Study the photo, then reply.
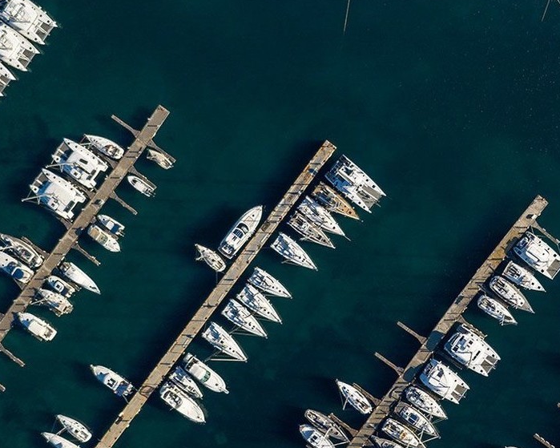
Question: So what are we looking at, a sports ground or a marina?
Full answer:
It's a marina.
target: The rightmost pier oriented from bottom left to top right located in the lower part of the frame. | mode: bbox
[306,195,559,448]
